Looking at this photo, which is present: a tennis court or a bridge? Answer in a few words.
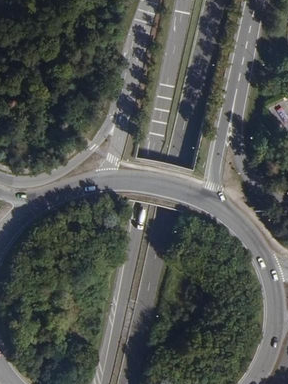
bridge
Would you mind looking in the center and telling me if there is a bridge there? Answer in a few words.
Yes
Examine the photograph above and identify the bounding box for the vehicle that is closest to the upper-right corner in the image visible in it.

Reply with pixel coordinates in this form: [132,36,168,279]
[275,105,288,122]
